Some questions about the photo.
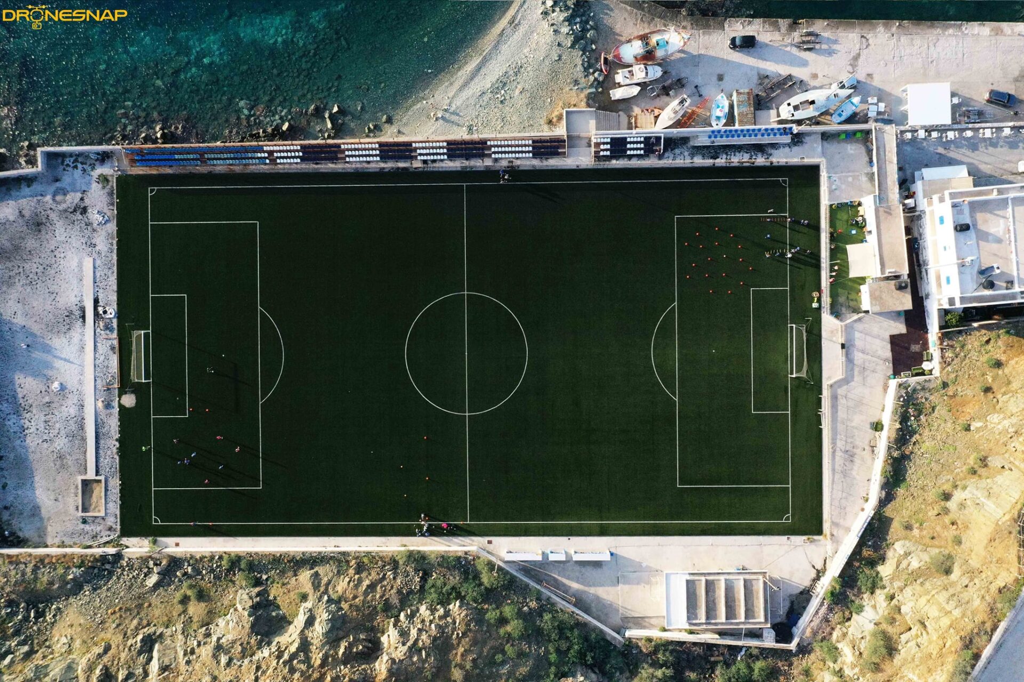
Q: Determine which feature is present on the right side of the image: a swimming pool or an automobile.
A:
automobile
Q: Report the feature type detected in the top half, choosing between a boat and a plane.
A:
boat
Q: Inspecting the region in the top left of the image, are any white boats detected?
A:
No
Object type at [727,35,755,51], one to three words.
car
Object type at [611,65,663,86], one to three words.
boat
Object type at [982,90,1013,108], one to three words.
car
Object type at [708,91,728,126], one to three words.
boat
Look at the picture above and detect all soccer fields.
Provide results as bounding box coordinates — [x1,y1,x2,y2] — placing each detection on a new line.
[115,165,822,537]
